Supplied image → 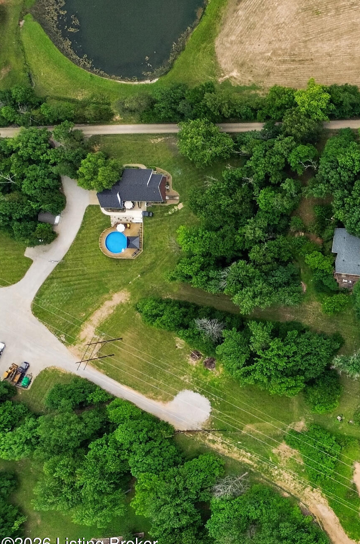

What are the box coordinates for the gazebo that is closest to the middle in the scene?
[127,236,143,249]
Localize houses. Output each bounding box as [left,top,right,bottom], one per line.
[333,228,360,276]
[97,169,166,208]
